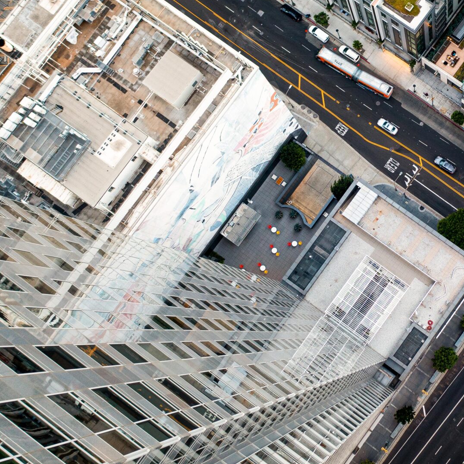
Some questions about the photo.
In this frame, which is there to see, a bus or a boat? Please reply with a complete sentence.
The one in the frame is a bus.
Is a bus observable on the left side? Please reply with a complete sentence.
No, the scene shows no bus on the left side.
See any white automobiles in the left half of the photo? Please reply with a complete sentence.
No, the scene shows no white automobile in the left half of the photo.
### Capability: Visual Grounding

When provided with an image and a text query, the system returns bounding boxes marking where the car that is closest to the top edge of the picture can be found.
[279,4,303,23]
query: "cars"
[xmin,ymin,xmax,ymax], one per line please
[339,44,361,63]
[308,25,331,44]
[279,4,303,23]
[376,118,399,136]
[434,155,458,176]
